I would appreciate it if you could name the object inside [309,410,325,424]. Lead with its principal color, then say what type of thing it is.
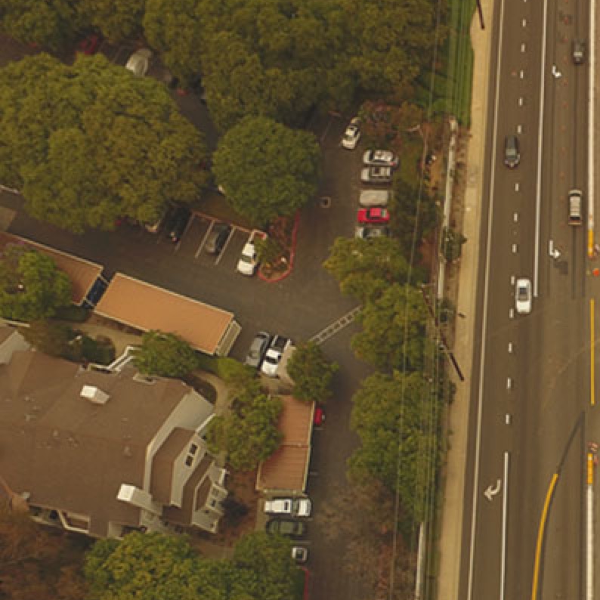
red car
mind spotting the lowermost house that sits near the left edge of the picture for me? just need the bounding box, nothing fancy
[0,343,228,541]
